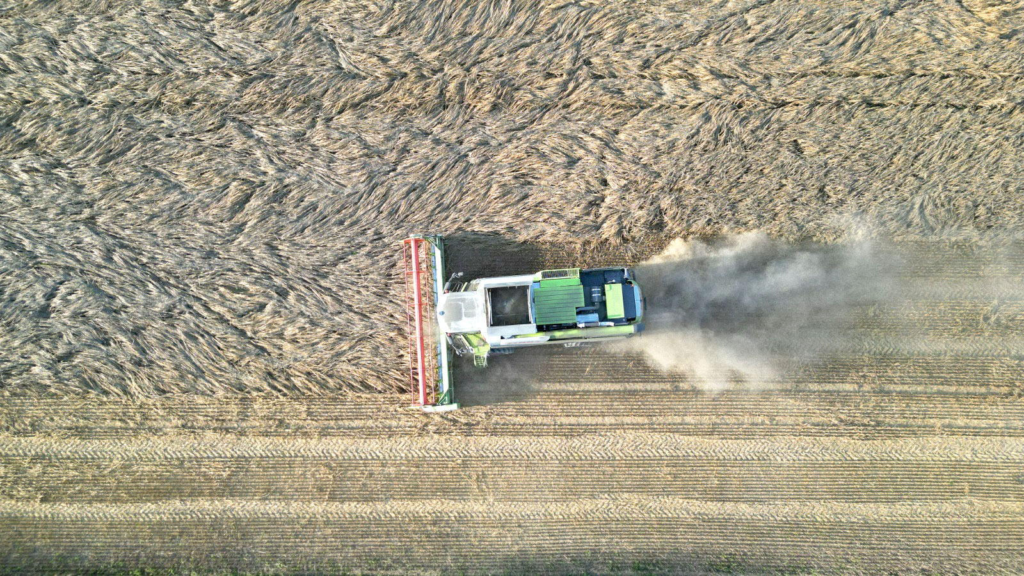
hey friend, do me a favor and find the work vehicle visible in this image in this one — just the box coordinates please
[400,233,646,409]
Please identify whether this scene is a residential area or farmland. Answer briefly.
farmland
